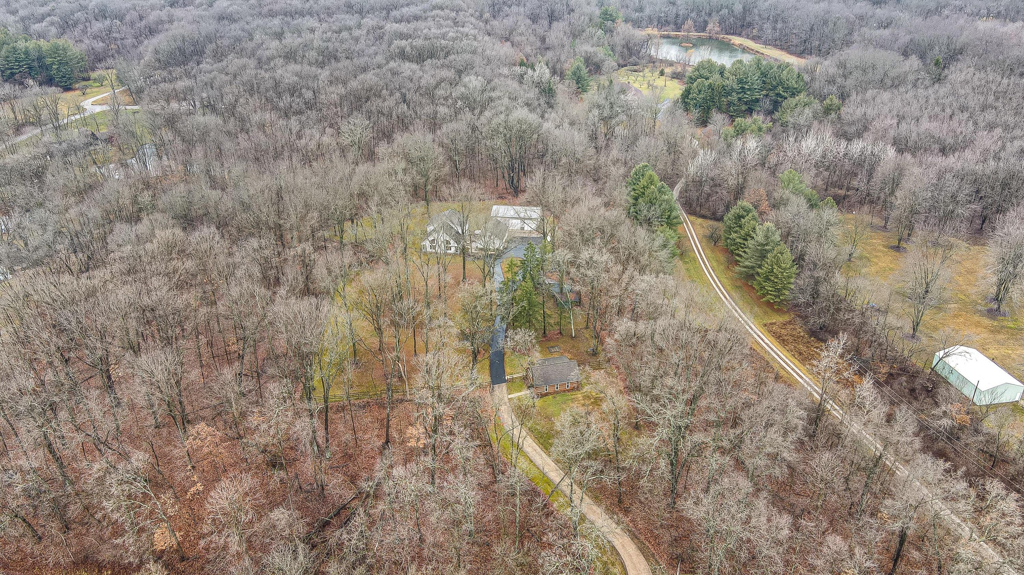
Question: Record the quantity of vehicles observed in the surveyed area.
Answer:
0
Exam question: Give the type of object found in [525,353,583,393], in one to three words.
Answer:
building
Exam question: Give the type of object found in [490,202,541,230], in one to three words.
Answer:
barn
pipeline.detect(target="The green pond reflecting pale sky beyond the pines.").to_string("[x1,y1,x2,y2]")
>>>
[647,36,759,69]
